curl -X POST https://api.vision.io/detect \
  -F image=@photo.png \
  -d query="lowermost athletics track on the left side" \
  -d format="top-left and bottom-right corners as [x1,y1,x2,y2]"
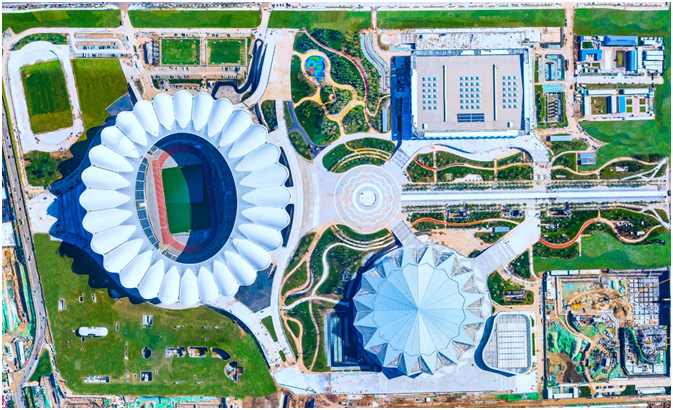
[151,143,223,254]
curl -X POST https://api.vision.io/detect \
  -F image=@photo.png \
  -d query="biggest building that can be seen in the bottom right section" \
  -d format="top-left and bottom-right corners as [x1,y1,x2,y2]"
[482,311,534,375]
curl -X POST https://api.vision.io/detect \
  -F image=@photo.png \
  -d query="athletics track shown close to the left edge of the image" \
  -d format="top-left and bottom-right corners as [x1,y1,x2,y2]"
[9,42,83,153]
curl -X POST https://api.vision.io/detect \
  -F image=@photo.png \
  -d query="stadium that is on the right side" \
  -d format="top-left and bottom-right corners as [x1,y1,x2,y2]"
[354,246,482,375]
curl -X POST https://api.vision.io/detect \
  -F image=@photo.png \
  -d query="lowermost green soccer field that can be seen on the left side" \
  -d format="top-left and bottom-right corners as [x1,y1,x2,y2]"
[163,164,210,233]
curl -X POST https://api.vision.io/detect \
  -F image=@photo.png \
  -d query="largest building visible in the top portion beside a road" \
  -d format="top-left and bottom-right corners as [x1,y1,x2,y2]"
[398,32,540,139]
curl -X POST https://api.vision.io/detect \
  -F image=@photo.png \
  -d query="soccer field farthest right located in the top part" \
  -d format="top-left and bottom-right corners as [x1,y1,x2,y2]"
[206,37,247,66]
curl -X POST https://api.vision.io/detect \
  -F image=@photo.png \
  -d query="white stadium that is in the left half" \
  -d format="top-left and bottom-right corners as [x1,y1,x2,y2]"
[80,90,291,309]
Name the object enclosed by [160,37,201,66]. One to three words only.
soccer field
